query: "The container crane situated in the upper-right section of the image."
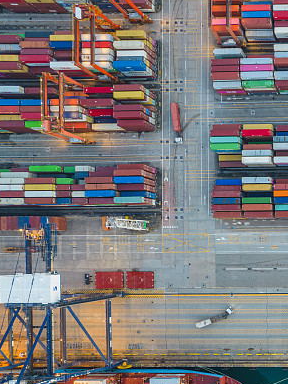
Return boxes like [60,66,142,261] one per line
[208,0,246,46]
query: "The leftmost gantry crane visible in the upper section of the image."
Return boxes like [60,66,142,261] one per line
[39,70,89,140]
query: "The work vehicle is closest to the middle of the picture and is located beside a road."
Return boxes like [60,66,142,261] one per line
[99,216,146,229]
